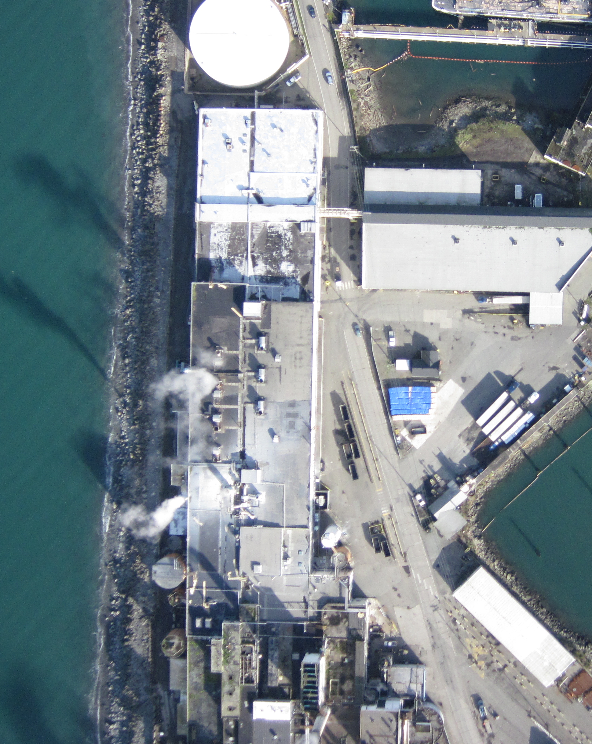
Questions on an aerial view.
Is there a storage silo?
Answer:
Yes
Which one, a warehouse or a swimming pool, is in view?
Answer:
warehouse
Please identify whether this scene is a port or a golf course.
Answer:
port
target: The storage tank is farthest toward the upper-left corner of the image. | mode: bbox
[190,0,294,91]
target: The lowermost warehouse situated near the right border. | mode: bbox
[454,562,575,687]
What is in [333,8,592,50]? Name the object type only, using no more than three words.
pier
